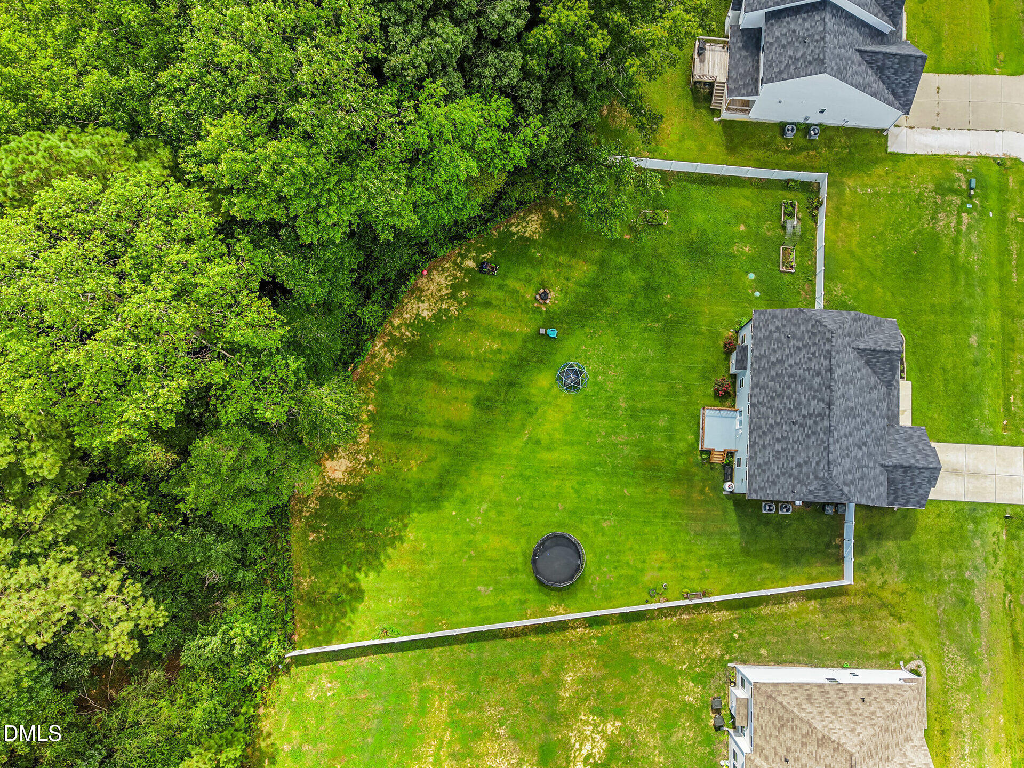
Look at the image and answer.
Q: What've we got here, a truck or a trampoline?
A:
trampoline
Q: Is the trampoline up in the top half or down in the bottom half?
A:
bottom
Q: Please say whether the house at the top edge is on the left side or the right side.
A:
right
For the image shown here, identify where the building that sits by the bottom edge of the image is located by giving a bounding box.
[722,652,940,768]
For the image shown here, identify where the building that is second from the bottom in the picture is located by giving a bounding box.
[729,304,943,509]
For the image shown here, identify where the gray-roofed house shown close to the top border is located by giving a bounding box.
[711,0,928,137]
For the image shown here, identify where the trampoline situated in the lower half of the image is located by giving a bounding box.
[531,531,586,589]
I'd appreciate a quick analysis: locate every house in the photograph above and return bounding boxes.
[722,652,940,768]
[729,304,943,509]
[711,0,928,137]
